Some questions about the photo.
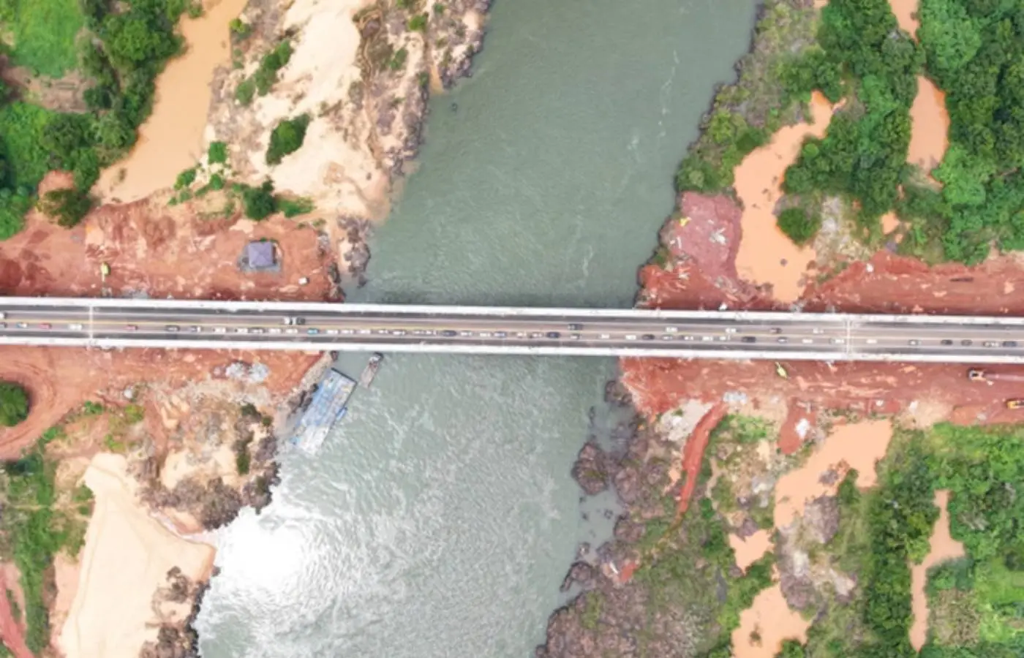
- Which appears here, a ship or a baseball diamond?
ship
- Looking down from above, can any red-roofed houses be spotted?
No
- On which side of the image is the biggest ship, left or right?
left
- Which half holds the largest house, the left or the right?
left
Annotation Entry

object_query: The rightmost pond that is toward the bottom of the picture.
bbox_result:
[909,492,963,651]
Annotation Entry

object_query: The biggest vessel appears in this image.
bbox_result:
[295,367,357,454]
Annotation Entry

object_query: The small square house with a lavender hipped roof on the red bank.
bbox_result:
[246,242,279,273]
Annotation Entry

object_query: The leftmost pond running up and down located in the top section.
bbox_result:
[732,93,844,300]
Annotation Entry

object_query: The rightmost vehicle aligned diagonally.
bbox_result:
[772,359,787,377]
